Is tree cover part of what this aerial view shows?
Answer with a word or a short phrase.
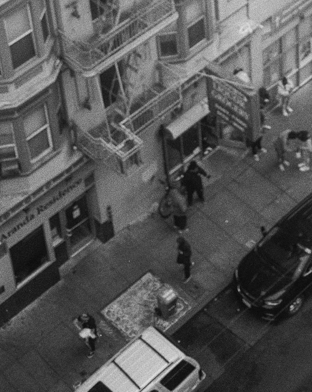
No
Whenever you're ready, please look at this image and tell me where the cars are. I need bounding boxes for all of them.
[223,182,312,328]
[72,319,208,392]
